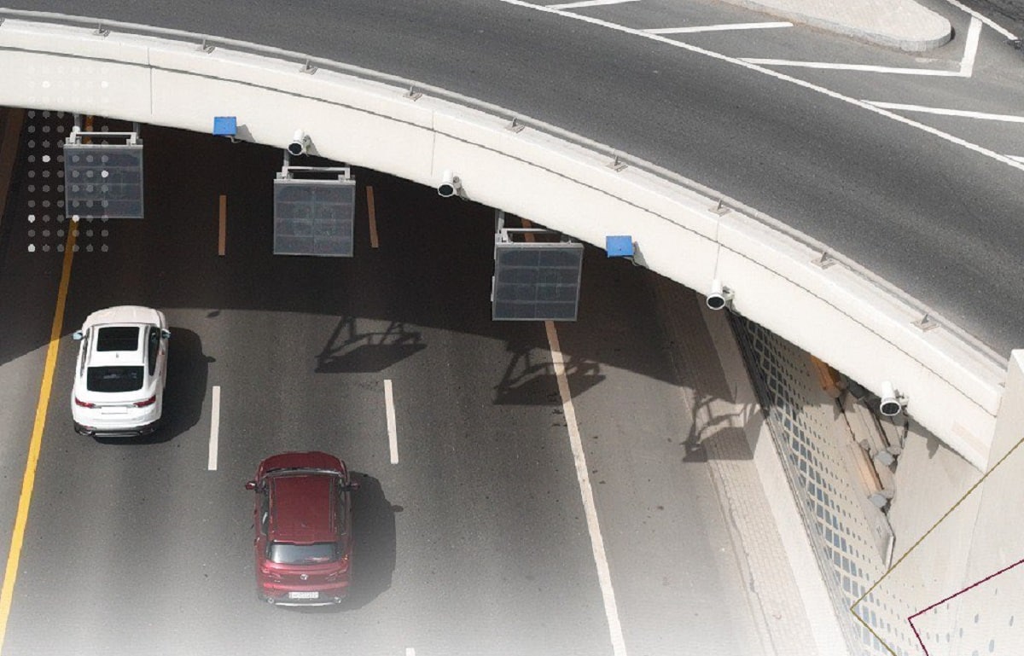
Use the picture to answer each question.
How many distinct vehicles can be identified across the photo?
two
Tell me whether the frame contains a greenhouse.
No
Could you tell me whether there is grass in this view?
No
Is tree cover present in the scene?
No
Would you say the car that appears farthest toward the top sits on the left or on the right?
left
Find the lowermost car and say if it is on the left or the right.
left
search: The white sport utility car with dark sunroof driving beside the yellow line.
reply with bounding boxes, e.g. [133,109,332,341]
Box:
[71,304,171,441]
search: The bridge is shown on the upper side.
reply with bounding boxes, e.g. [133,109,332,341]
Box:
[0,19,1015,472]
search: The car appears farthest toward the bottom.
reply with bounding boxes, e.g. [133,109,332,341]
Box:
[244,451,356,611]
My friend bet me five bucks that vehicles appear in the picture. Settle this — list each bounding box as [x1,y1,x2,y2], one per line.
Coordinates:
[244,451,356,611]
[71,304,171,441]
